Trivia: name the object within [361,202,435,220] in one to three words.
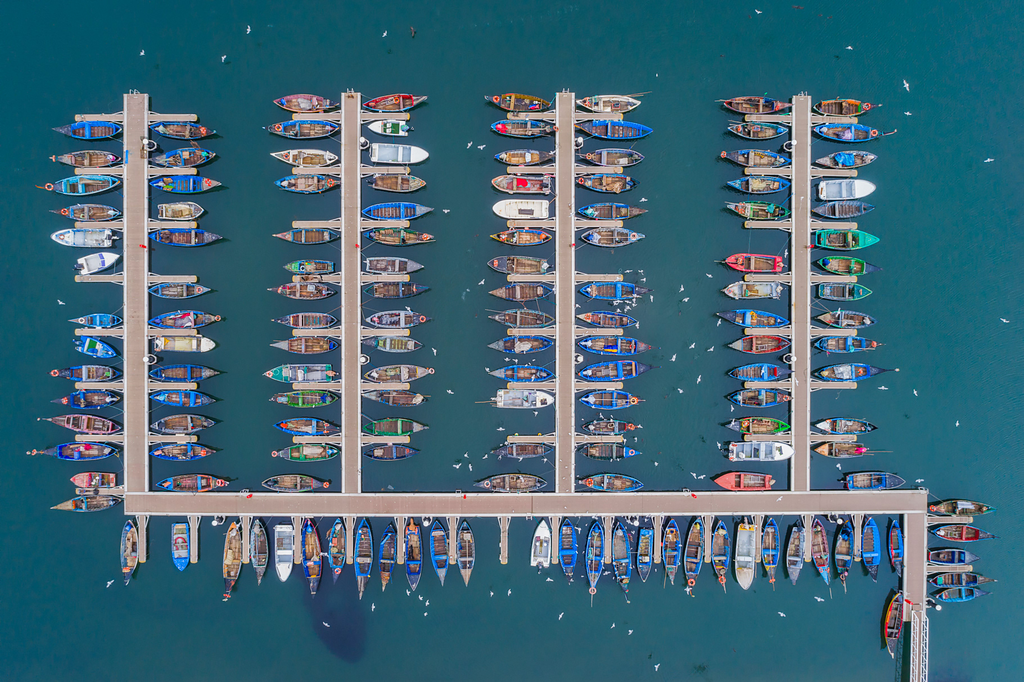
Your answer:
boat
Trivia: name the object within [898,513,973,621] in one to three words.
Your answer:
pier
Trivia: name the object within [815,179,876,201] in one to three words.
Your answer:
boat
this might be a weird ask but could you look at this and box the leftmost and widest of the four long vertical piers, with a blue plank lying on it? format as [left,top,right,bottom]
[75,88,199,499]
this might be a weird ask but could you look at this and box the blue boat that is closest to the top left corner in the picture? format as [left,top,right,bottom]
[50,120,124,140]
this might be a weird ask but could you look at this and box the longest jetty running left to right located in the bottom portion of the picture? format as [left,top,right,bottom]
[125,487,932,563]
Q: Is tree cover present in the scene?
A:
No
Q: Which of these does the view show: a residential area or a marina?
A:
marina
